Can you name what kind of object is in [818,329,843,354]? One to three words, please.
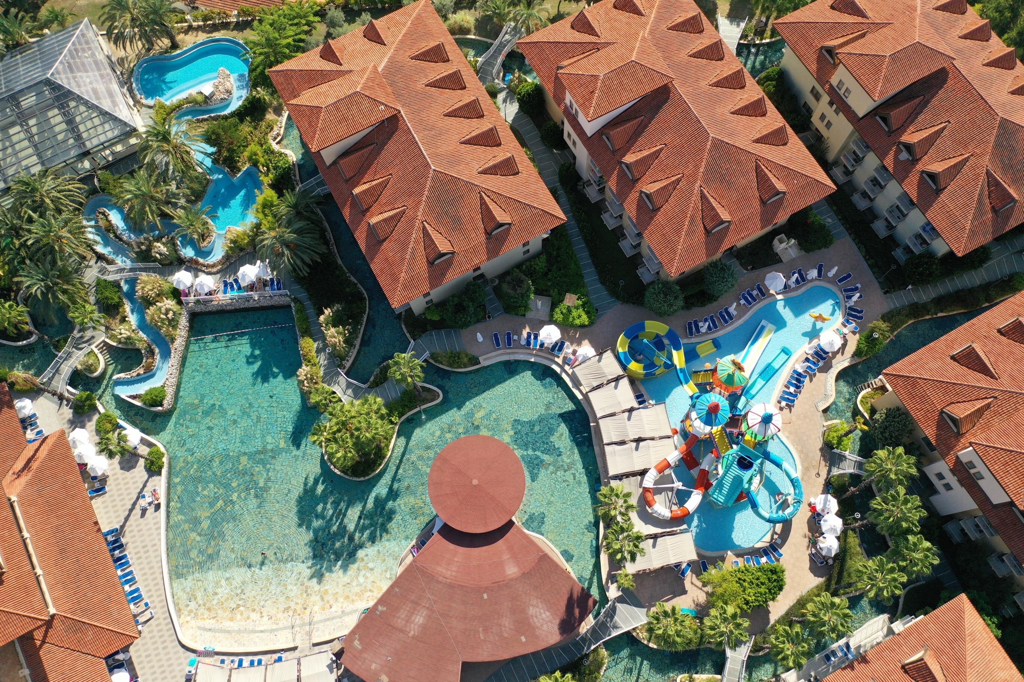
umbrella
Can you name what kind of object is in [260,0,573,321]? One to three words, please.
building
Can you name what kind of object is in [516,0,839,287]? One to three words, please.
building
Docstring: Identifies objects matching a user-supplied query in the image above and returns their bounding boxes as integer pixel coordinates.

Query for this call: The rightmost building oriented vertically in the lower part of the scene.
[870,293,1024,645]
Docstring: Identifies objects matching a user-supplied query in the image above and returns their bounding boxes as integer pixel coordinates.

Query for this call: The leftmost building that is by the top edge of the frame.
[0,16,147,211]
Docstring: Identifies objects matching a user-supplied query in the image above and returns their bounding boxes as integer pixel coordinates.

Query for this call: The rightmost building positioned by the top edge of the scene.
[777,0,1024,268]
